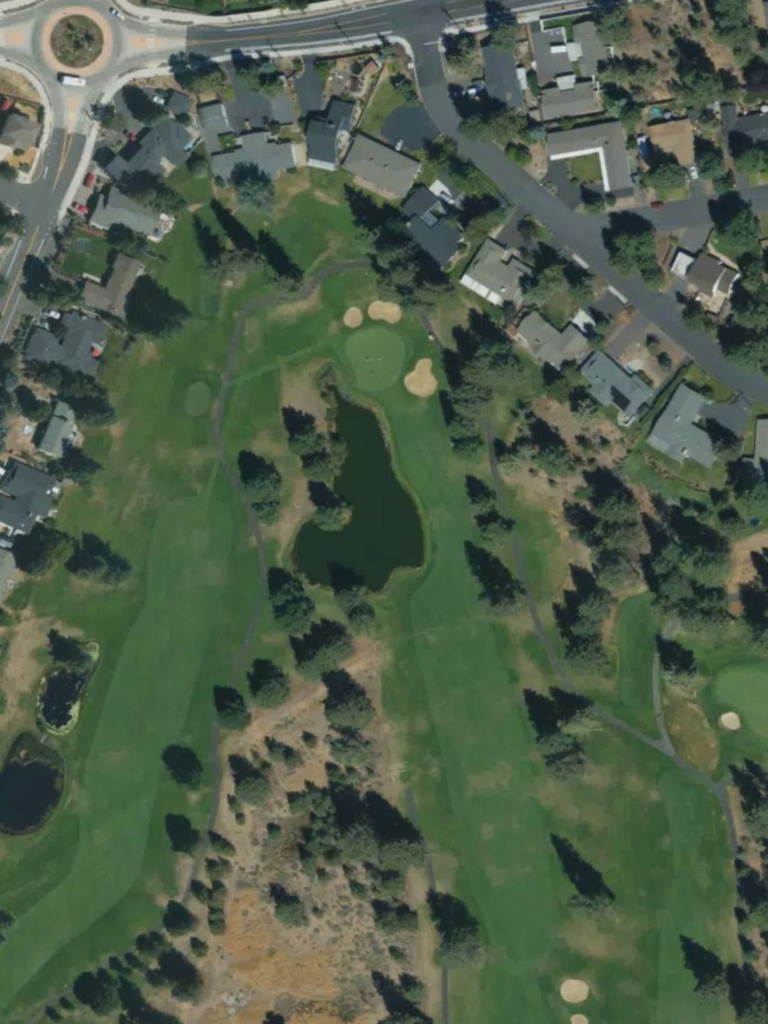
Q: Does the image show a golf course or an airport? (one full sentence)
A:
The area seen from above is a golf course.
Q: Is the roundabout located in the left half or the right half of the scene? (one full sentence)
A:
The roundabout appears in the left half of the scene.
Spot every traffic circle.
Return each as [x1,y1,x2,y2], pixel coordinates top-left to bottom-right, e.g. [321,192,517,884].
[0,0,186,133]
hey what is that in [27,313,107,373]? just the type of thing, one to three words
house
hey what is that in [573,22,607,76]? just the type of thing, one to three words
house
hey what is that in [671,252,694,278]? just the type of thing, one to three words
building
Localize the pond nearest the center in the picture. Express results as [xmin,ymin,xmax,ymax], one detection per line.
[294,391,423,589]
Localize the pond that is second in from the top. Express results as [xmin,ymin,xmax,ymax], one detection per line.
[43,670,88,727]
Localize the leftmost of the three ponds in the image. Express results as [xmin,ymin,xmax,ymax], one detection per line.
[0,762,61,831]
